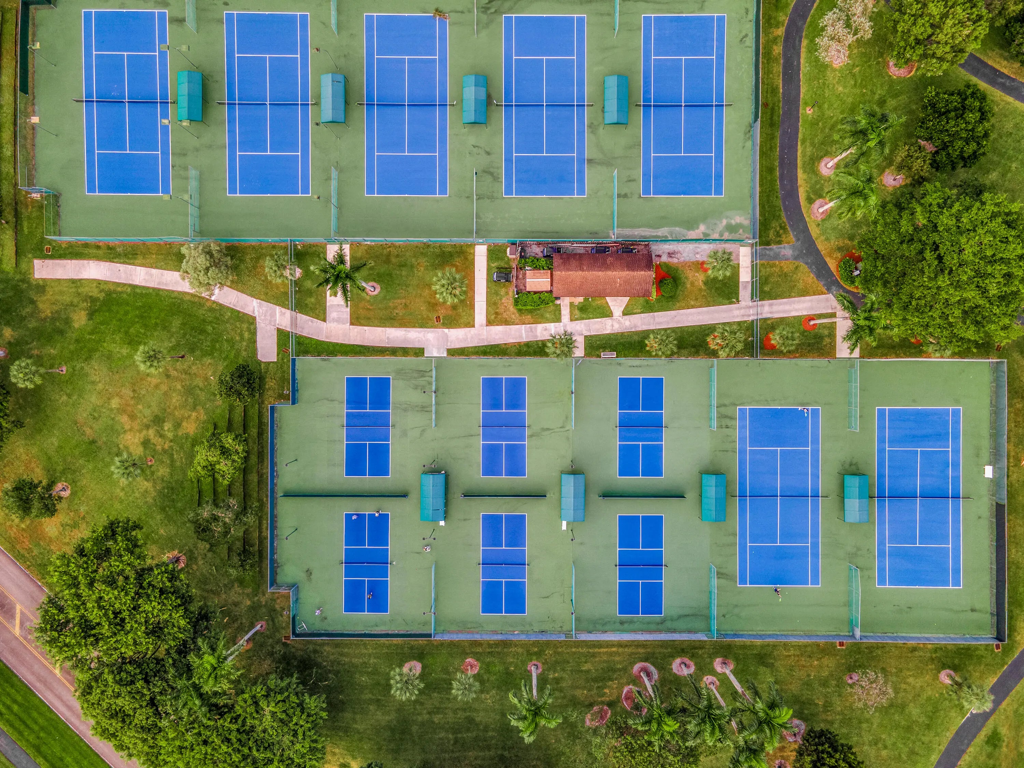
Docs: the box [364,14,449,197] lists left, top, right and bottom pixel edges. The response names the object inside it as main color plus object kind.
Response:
blue tennis court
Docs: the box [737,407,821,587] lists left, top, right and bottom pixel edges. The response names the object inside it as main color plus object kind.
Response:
blue tennis court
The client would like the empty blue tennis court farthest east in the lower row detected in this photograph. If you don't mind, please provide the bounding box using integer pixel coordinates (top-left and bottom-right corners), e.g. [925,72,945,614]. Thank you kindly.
[875,407,963,588]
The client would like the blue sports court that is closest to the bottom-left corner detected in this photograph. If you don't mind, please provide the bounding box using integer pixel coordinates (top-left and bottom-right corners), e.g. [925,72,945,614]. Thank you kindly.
[343,513,390,614]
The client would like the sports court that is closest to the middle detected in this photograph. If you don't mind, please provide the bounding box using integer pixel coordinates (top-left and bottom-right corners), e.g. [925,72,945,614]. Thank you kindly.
[481,376,527,477]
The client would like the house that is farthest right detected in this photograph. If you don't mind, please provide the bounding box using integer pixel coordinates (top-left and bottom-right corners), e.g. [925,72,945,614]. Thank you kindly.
[553,253,654,297]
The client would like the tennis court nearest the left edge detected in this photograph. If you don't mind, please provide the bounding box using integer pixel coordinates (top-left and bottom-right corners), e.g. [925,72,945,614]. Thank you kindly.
[82,10,172,195]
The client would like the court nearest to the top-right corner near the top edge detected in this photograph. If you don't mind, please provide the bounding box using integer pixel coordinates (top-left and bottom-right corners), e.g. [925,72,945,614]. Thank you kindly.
[641,14,727,197]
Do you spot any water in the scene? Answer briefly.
No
